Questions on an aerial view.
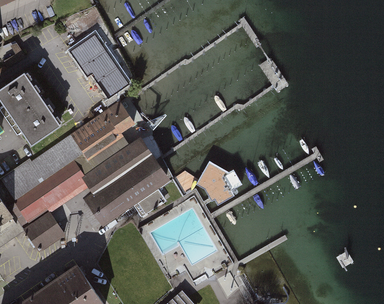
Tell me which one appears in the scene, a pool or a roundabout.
pool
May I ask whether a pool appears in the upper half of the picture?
No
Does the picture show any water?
Yes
